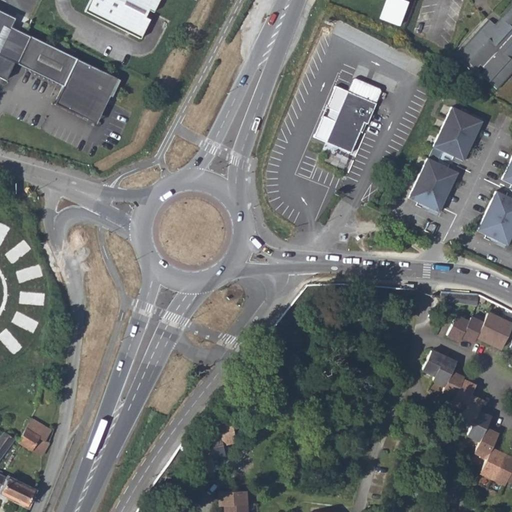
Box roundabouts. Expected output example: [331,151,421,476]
[131,170,254,293]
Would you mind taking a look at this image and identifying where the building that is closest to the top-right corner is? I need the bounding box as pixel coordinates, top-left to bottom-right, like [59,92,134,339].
[462,6,512,88]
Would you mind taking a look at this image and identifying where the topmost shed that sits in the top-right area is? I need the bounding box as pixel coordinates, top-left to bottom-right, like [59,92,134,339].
[378,0,410,28]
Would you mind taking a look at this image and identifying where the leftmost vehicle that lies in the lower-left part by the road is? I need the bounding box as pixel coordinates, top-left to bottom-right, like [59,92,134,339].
[87,418,107,460]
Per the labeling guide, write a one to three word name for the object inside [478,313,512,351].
house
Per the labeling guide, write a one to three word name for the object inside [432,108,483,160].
house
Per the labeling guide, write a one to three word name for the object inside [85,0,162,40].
building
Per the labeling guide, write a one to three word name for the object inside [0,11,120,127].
building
